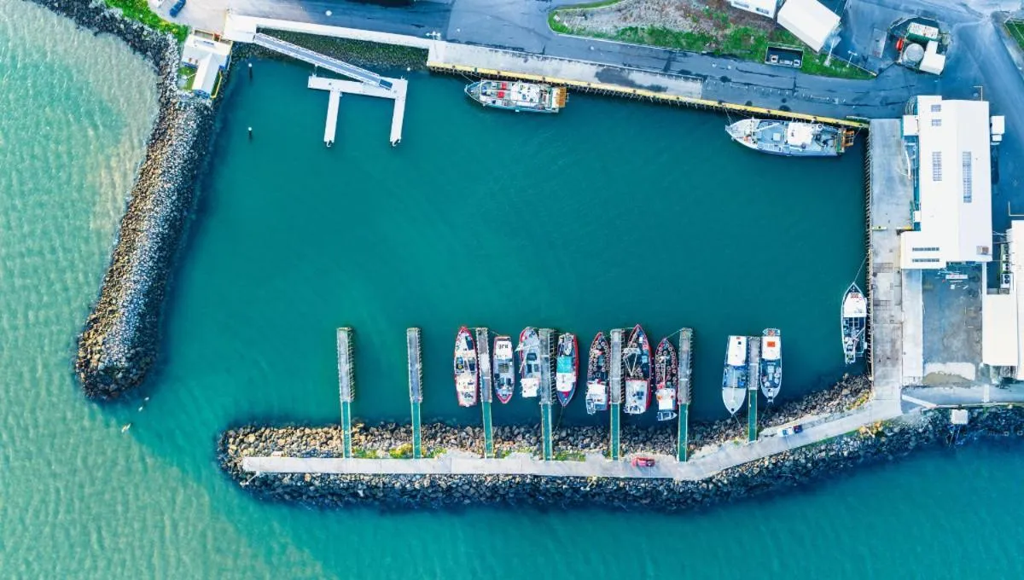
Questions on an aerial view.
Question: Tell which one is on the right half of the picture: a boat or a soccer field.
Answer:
boat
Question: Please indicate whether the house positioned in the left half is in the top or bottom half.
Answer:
top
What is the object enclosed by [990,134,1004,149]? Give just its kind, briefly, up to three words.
vehicle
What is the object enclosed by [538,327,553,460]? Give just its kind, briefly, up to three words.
pier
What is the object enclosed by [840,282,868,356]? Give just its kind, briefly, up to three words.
boat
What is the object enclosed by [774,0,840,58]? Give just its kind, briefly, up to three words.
shed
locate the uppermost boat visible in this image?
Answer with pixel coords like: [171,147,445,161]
[464,79,569,115]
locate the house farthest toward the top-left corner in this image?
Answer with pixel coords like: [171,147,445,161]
[182,35,236,98]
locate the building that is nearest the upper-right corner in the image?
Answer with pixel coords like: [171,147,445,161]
[913,40,945,80]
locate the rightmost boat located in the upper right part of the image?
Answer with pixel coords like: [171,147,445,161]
[726,117,855,157]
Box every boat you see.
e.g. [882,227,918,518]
[726,117,855,157]
[556,333,578,407]
[516,327,540,397]
[840,282,868,356]
[493,336,515,404]
[454,326,478,407]
[587,333,609,411]
[723,336,747,416]
[656,339,677,411]
[759,336,782,402]
[623,325,654,414]
[763,329,781,336]
[657,412,677,421]
[464,79,569,115]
